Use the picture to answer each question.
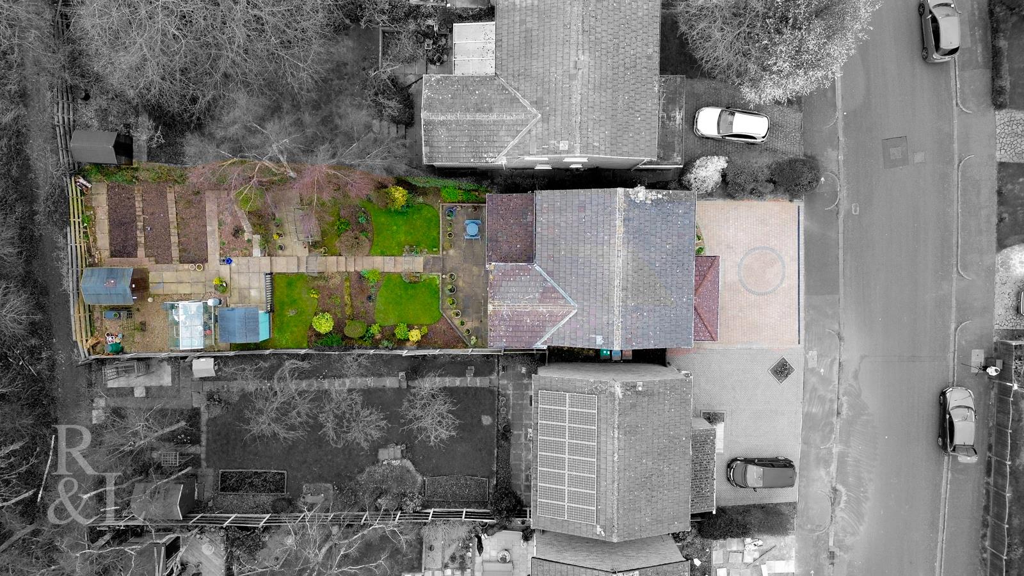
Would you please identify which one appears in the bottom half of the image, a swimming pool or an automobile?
automobile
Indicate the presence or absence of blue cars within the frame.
No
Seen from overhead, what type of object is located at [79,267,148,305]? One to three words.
shed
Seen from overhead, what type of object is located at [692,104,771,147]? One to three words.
car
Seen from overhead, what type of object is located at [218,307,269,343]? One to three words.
shed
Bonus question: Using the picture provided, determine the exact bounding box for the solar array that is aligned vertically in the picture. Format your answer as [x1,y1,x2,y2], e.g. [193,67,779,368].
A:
[539,390,596,524]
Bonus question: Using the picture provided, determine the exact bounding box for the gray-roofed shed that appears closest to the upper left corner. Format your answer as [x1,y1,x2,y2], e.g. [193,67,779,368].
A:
[67,131,132,169]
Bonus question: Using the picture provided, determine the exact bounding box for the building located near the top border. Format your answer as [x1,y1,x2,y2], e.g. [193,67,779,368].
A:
[419,0,685,174]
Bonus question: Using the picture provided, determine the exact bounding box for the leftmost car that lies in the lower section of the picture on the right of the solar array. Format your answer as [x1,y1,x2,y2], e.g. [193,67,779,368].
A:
[725,456,797,494]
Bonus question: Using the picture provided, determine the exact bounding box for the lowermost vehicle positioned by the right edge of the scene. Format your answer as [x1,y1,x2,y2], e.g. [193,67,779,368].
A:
[933,388,978,467]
